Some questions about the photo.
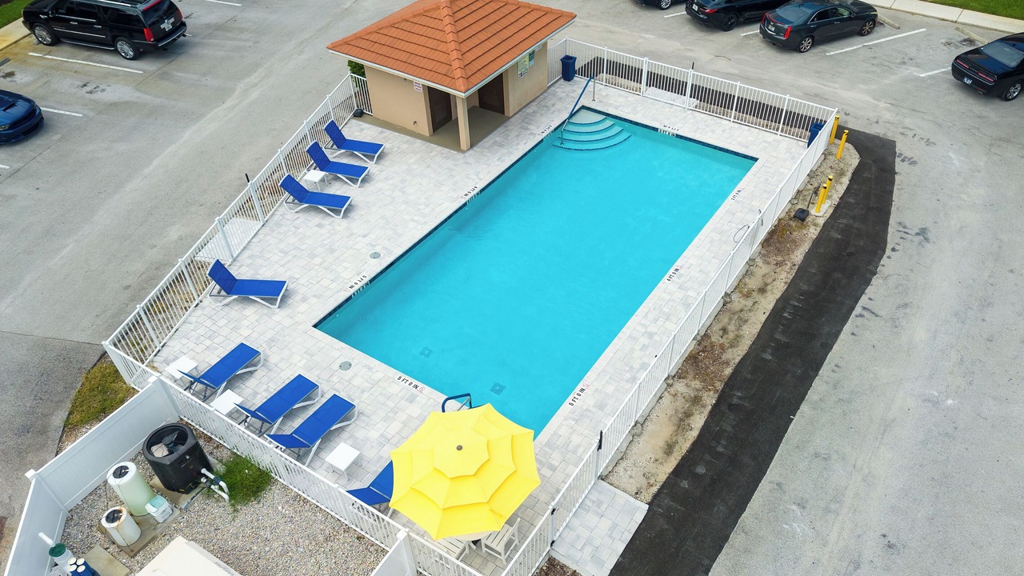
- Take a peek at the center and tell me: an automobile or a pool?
pool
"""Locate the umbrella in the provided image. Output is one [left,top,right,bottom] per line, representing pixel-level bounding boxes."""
[387,405,542,543]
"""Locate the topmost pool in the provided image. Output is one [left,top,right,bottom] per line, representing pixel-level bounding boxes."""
[296,102,768,456]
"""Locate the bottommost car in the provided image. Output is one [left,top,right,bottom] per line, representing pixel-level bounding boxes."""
[0,87,47,145]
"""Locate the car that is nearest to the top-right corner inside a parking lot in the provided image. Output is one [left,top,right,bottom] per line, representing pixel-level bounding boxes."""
[944,26,1024,102]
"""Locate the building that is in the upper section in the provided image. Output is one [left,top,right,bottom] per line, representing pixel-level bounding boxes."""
[323,0,580,152]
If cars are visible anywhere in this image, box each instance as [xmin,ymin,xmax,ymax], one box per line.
[754,0,889,53]
[678,0,787,33]
[10,0,193,61]
[0,87,47,145]
[944,26,1024,102]
[635,0,675,11]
